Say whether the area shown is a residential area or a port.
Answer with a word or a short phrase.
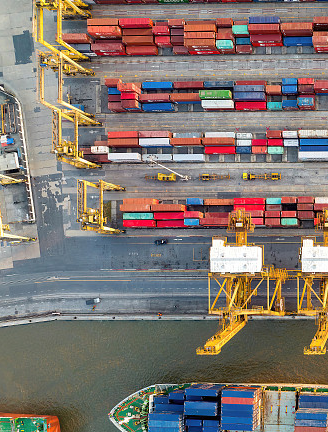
port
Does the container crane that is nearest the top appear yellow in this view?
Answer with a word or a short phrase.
Yes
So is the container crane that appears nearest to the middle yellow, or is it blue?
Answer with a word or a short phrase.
yellow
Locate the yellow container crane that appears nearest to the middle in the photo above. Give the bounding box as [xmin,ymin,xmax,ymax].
[80,179,128,235]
